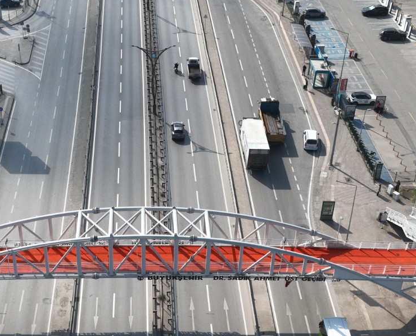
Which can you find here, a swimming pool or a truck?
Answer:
truck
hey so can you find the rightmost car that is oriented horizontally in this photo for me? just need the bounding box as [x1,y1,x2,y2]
[379,27,409,41]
